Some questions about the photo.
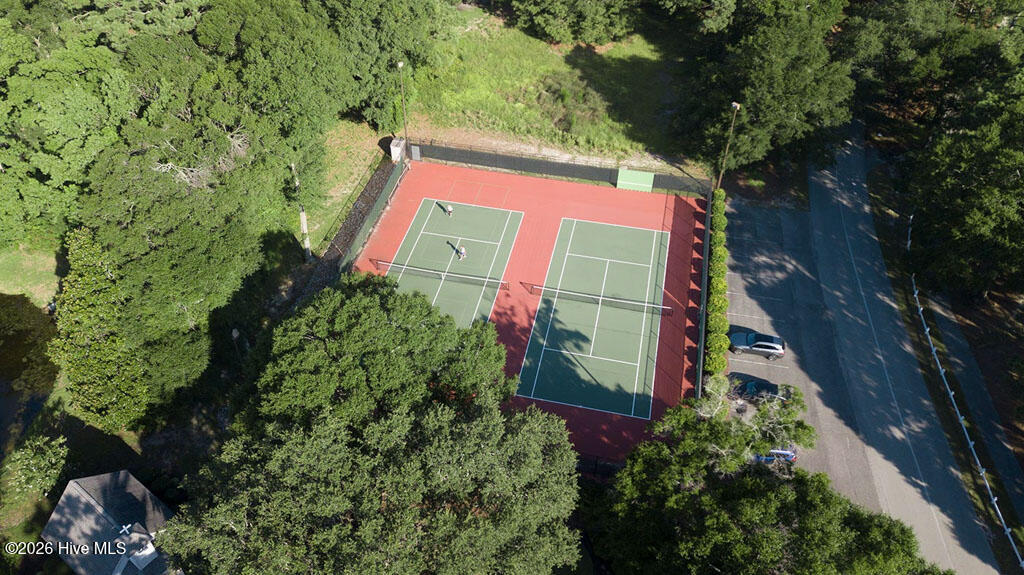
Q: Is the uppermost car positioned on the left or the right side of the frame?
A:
right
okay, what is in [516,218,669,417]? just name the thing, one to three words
tennis court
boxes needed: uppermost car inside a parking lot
[728,330,786,360]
